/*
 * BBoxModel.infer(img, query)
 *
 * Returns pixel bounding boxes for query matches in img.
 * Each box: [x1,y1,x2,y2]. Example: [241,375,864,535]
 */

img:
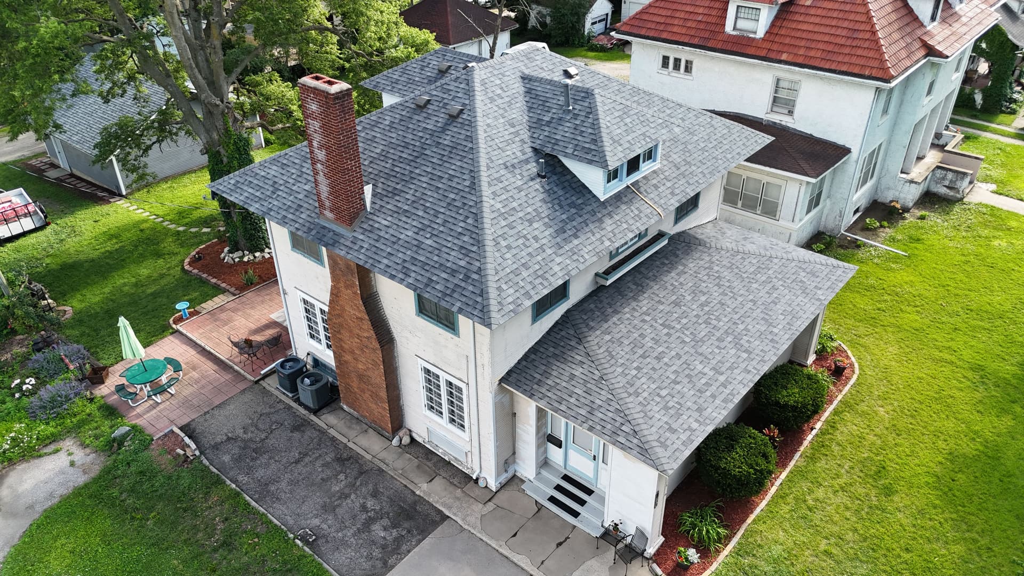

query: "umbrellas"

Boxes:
[122,316,149,368]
